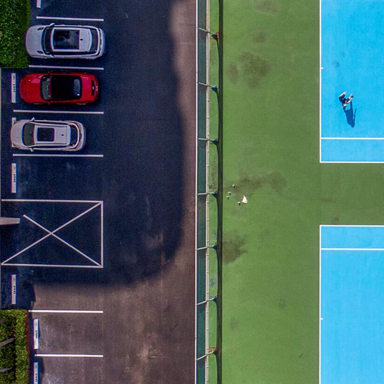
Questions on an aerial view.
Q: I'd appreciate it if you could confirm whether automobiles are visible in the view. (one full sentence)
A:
Yes, looking at the shot, I can spot an automobile.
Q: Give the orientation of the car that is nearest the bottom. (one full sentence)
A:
In this picture, the car that is nearest the bottom is oriented from side to side.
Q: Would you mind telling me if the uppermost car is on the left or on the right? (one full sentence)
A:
It is on the left.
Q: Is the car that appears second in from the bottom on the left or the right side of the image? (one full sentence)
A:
The car that appears second in from the bottom is on the left side of the image.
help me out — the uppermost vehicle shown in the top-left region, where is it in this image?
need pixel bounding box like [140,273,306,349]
[26,20,106,61]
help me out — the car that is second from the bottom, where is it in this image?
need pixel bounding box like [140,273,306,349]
[20,68,98,108]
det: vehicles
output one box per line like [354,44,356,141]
[20,68,98,108]
[26,20,106,61]
[11,116,86,155]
